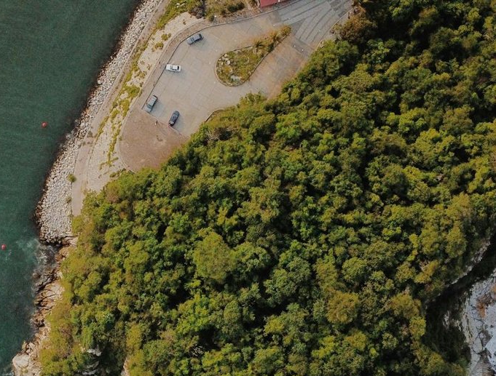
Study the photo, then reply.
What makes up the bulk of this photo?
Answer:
trees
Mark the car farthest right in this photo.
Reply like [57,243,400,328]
[187,32,204,44]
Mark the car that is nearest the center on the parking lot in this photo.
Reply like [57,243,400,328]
[168,109,181,126]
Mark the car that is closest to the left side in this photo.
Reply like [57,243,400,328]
[146,94,158,112]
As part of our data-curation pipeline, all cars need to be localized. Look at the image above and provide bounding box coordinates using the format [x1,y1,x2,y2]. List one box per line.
[187,32,204,44]
[168,109,181,126]
[146,94,158,112]
[165,62,182,72]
